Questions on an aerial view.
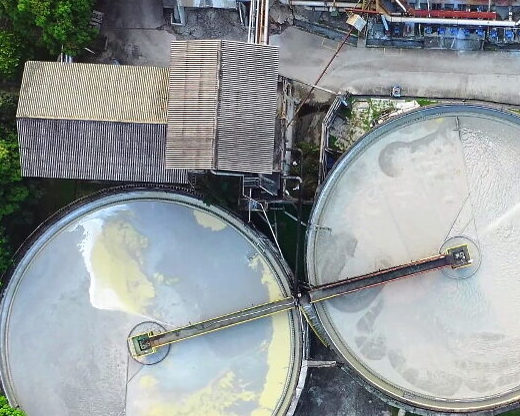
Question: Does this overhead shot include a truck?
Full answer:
No, there's no truck here.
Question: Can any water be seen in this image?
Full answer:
Yes, there is water in the image.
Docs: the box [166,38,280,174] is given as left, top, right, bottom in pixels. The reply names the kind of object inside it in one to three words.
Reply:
shed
